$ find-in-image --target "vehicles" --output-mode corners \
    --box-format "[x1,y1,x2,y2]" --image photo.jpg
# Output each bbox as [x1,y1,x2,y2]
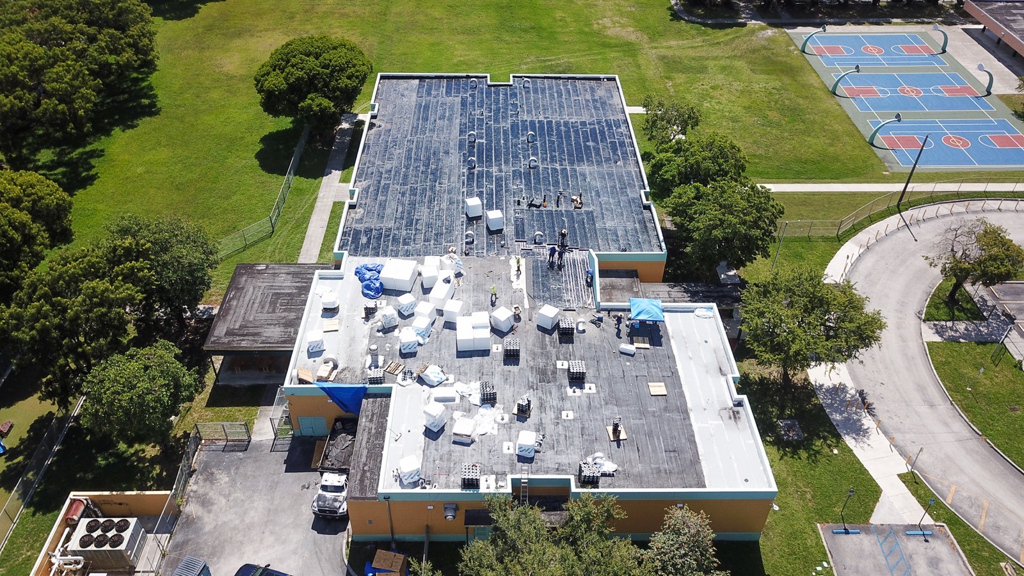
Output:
[313,416,352,522]
[234,564,290,576]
